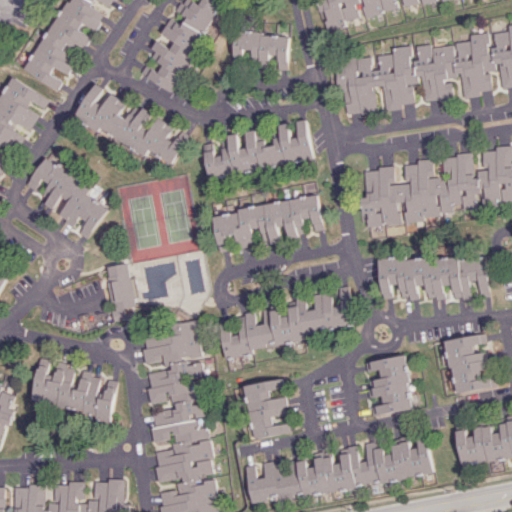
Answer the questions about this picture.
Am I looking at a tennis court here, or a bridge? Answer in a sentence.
This aerial view contains a tennis court.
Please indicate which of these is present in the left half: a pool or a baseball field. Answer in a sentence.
What appears in the left half is a pool.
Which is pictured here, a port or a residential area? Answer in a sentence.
It's a residential area.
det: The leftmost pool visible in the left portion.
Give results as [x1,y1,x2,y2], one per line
[142,262,176,300]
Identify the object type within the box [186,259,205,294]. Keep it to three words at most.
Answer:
swimming pool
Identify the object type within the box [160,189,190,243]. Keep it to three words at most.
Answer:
tennis court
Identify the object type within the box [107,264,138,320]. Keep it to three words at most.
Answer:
building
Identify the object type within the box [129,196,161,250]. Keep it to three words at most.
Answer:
tennis court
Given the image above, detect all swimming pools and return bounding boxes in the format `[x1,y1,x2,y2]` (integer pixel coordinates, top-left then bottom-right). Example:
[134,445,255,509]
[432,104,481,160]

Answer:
[142,262,176,300]
[186,259,205,294]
